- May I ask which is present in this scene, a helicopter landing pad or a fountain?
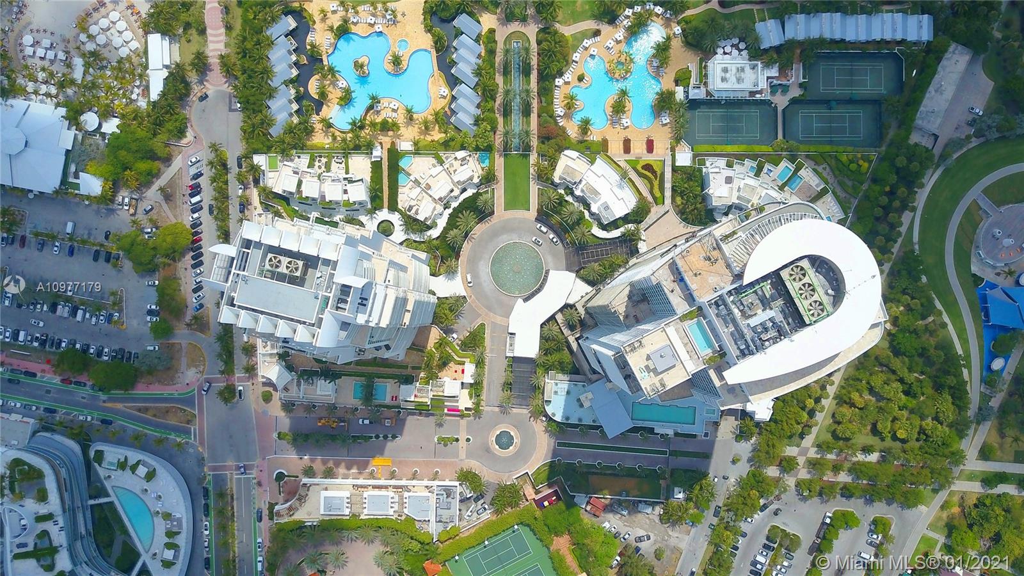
fountain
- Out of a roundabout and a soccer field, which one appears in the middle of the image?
roundabout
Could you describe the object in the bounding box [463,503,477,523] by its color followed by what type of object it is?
white vehicle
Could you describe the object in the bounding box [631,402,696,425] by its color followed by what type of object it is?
blue swimming pool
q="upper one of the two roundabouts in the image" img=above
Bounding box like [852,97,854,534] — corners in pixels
[459,213,563,325]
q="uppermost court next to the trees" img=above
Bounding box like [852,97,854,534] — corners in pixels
[805,52,904,99]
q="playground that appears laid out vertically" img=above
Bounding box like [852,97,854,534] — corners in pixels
[976,272,1024,389]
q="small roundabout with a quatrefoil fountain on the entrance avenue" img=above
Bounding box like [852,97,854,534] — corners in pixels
[463,399,547,484]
